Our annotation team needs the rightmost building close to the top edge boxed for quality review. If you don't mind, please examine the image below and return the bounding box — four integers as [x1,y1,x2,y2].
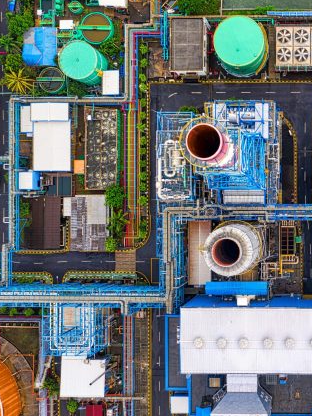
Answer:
[170,17,207,82]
